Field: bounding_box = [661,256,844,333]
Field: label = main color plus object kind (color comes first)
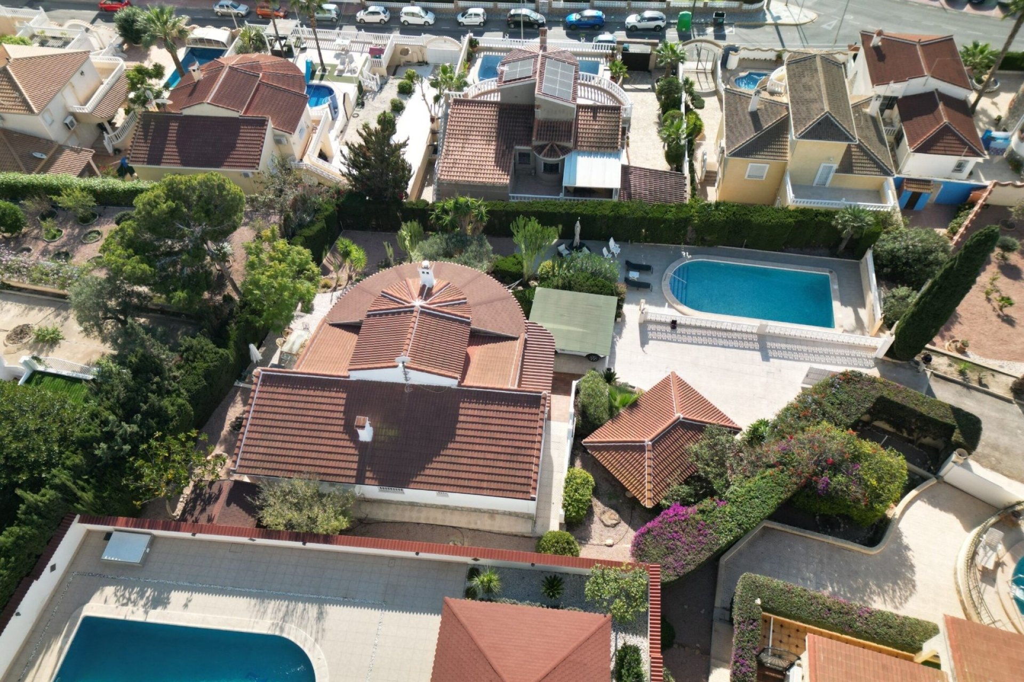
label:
blue swimming pool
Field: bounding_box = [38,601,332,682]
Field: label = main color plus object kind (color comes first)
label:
blue swimming pool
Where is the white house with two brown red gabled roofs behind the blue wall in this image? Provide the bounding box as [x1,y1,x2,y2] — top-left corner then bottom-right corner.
[847,18,990,184]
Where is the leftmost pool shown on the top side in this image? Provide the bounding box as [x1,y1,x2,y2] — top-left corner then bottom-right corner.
[168,48,220,90]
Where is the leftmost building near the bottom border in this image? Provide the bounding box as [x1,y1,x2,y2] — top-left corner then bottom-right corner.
[430,597,613,682]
